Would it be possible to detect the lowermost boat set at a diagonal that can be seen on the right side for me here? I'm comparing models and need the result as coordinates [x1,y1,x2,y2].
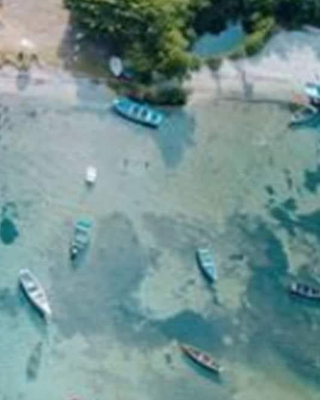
[178,343,230,383]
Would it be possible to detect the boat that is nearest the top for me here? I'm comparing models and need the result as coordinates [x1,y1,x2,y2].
[109,58,122,78]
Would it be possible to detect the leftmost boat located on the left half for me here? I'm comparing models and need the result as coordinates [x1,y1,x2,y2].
[20,269,50,326]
